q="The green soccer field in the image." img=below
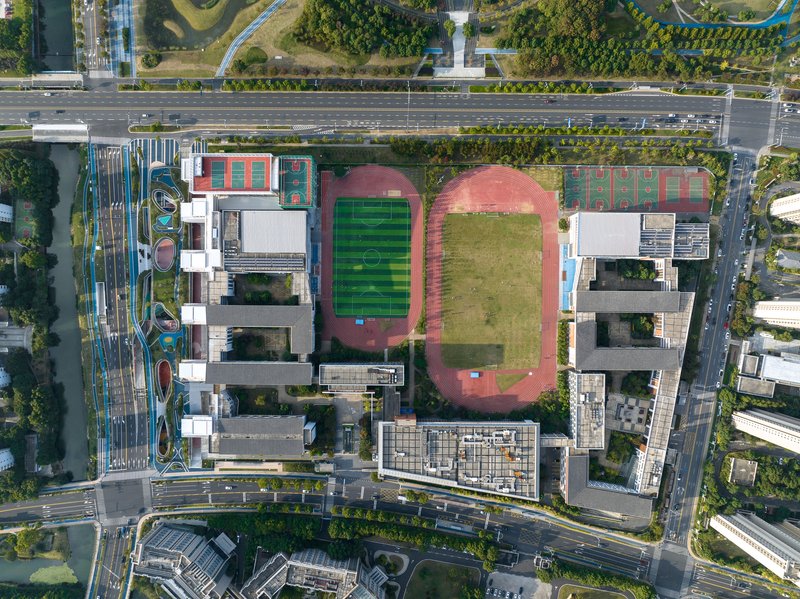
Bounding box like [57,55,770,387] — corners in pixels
[334,197,411,317]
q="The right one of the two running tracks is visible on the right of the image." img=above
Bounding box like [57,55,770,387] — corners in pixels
[426,165,558,413]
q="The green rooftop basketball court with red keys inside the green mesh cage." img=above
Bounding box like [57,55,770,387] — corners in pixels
[284,159,306,204]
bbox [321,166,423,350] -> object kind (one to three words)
running track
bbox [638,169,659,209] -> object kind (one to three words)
basketball court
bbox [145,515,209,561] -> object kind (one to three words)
building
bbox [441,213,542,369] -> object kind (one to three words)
sports field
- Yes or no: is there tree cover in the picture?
Yes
